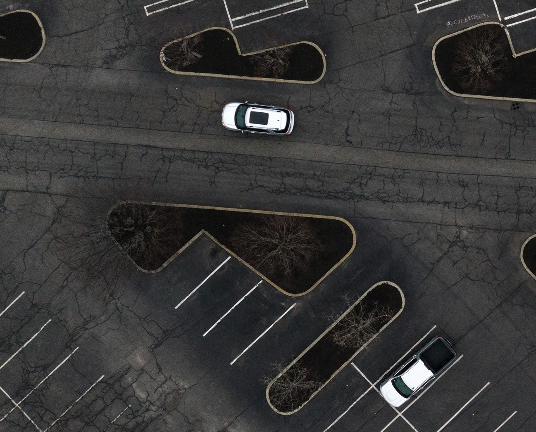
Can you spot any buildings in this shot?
No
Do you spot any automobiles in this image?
Yes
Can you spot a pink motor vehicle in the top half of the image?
No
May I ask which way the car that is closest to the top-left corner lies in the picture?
horizontally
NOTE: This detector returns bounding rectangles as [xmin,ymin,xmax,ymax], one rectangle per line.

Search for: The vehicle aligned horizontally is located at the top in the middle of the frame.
[222,100,295,135]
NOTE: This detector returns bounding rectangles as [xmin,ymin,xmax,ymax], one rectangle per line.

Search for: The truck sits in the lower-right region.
[383,334,458,408]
